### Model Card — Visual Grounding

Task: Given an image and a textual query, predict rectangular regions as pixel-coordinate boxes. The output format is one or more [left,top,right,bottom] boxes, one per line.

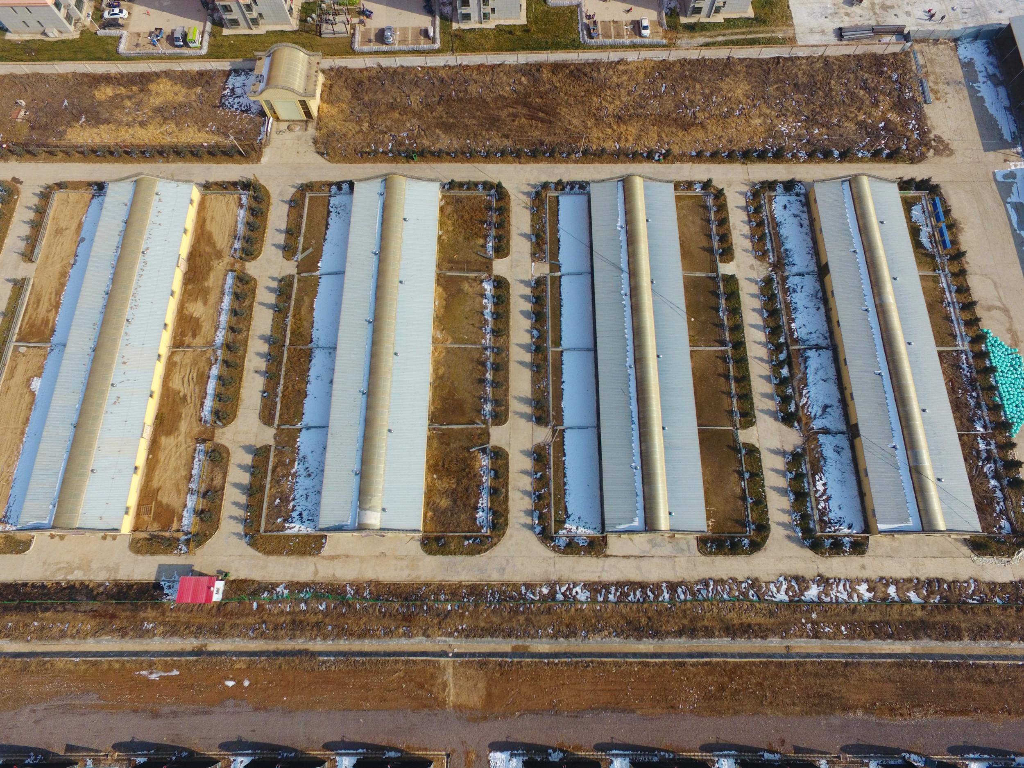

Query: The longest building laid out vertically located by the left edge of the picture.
[15,172,200,536]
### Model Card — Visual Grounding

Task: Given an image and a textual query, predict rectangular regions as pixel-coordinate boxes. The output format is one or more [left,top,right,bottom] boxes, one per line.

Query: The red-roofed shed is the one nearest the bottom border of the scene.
[177,575,223,603]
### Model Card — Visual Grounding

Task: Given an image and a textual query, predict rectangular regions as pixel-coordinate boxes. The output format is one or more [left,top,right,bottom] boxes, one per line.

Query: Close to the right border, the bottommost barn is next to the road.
[805,172,986,536]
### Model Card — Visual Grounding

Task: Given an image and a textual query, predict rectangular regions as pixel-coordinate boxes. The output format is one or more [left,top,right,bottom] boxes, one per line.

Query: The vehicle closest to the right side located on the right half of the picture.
[638,17,651,38]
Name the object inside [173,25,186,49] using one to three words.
vehicle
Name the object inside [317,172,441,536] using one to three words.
barn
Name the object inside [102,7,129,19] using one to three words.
vehicle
